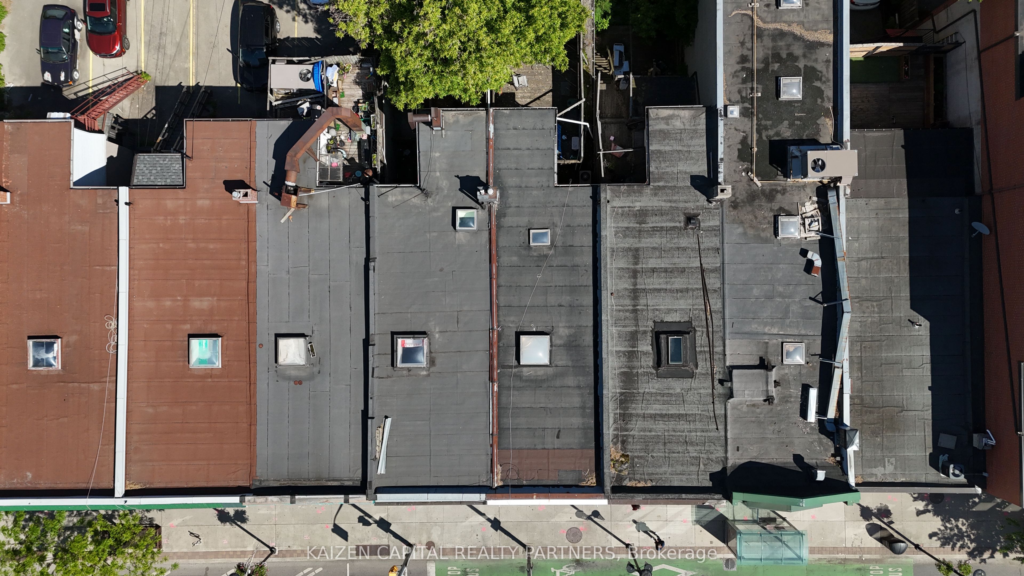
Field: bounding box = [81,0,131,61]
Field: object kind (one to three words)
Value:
car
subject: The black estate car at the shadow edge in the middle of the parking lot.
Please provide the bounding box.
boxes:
[235,0,281,91]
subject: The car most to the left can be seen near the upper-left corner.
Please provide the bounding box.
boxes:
[34,4,80,88]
